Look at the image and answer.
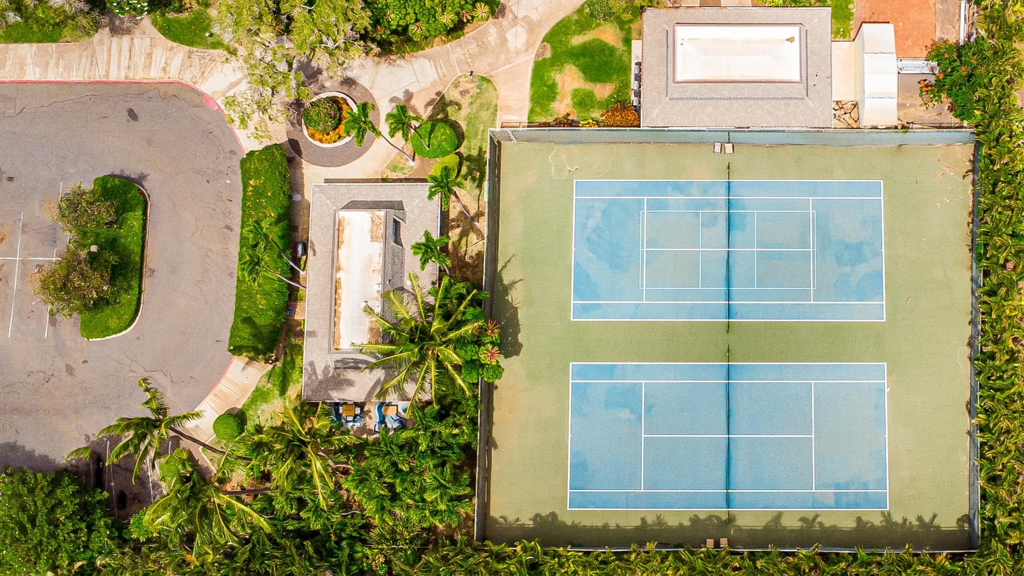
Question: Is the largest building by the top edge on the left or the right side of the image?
right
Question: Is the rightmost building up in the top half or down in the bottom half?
top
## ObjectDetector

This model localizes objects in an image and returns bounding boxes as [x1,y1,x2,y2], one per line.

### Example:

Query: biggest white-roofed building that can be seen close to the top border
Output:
[640,6,834,129]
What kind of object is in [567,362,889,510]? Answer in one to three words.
tennis court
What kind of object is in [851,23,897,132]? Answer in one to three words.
building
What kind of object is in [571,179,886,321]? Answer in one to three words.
tennis court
